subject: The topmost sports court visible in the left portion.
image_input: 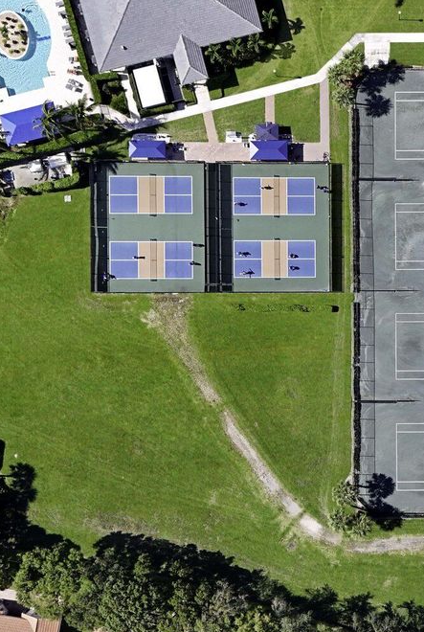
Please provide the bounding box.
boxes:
[95,163,204,227]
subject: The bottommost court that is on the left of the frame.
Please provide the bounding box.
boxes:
[95,227,204,292]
